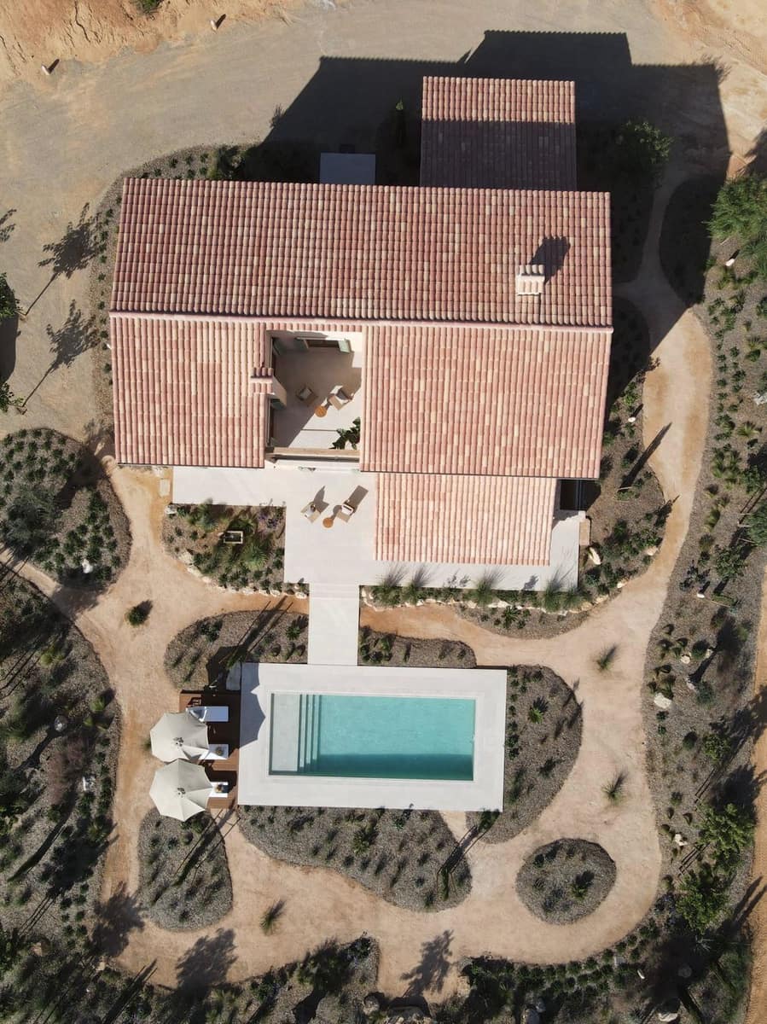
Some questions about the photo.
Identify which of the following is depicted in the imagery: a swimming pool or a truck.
swimming pool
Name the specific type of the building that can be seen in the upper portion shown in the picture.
house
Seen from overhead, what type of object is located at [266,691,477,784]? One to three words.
swimming pool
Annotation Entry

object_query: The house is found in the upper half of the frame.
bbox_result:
[106,75,614,567]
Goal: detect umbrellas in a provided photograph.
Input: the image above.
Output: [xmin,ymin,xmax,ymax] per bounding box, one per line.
[150,756,215,819]
[149,706,210,761]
